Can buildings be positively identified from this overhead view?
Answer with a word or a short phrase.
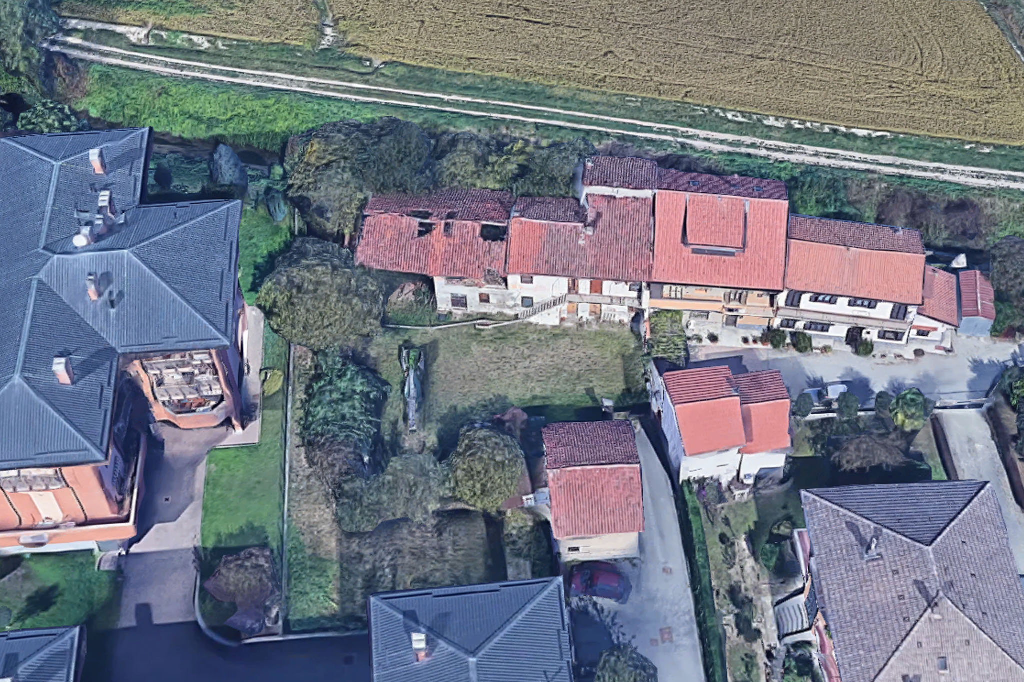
Yes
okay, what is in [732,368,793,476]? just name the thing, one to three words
building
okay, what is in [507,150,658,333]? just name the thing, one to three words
house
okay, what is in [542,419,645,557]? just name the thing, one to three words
building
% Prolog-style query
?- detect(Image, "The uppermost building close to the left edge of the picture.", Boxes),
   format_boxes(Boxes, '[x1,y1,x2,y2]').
[0,125,248,568]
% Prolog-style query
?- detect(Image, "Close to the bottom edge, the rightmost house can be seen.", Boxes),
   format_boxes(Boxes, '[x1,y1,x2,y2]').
[786,479,1024,682]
